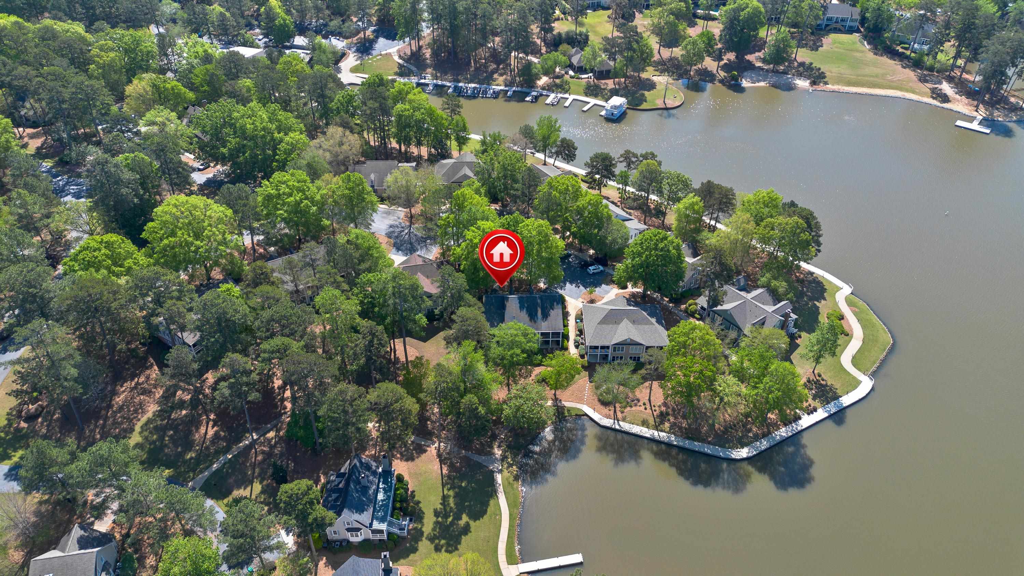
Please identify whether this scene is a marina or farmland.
marina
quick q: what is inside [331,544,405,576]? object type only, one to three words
house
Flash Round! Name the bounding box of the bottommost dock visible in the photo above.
[520,551,583,575]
